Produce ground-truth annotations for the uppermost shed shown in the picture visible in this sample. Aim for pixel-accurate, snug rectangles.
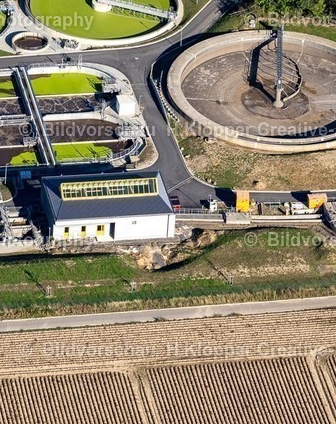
[115,93,137,116]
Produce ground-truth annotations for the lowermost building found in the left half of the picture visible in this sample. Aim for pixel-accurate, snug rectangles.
[46,171,176,243]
